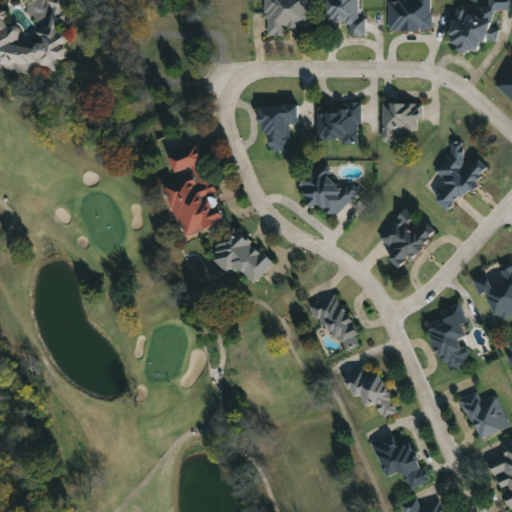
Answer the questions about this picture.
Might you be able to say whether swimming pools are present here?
Yes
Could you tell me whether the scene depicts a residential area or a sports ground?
residential area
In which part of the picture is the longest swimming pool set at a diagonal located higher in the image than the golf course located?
top left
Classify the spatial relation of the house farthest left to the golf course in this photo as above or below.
above it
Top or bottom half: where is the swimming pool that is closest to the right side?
bottom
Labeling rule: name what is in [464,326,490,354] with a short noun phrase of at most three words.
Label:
swimming pool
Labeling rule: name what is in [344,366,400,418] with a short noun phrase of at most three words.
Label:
house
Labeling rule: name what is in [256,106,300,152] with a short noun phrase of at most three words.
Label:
house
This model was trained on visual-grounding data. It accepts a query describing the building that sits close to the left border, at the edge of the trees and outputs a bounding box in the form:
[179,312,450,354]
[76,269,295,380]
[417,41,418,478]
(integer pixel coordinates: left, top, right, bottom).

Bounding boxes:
[0,0,71,76]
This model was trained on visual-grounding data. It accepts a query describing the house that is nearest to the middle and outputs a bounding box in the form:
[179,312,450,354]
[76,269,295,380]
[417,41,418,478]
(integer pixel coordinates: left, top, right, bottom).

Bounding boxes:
[214,236,275,286]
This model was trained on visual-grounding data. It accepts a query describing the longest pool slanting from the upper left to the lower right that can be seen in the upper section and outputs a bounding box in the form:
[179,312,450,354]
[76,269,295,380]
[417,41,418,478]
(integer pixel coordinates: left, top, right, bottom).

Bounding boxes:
[8,1,38,36]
